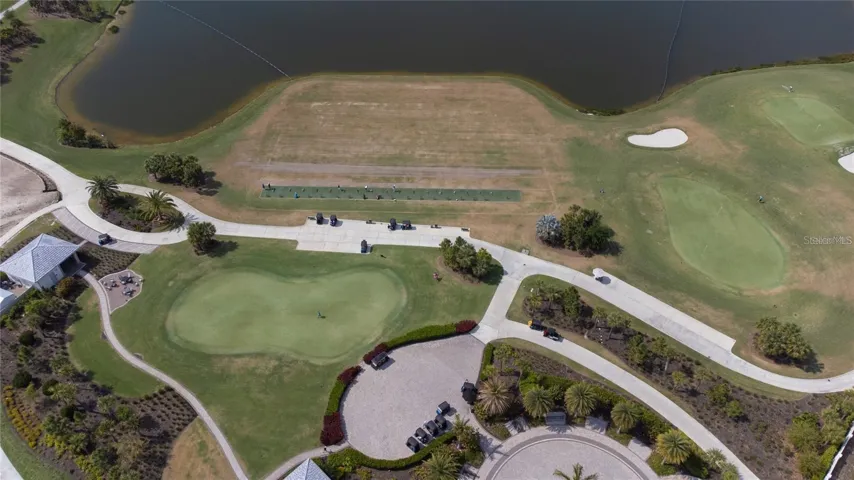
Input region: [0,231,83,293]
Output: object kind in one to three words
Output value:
building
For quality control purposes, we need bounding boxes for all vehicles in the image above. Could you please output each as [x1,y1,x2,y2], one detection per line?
[389,217,397,230]
[405,436,421,456]
[374,352,389,369]
[463,380,477,408]
[435,400,453,416]
[315,210,324,223]
[434,413,449,432]
[329,213,337,227]
[359,240,368,254]
[94,233,111,246]
[528,316,544,332]
[424,420,440,440]
[414,428,430,447]
[544,324,560,341]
